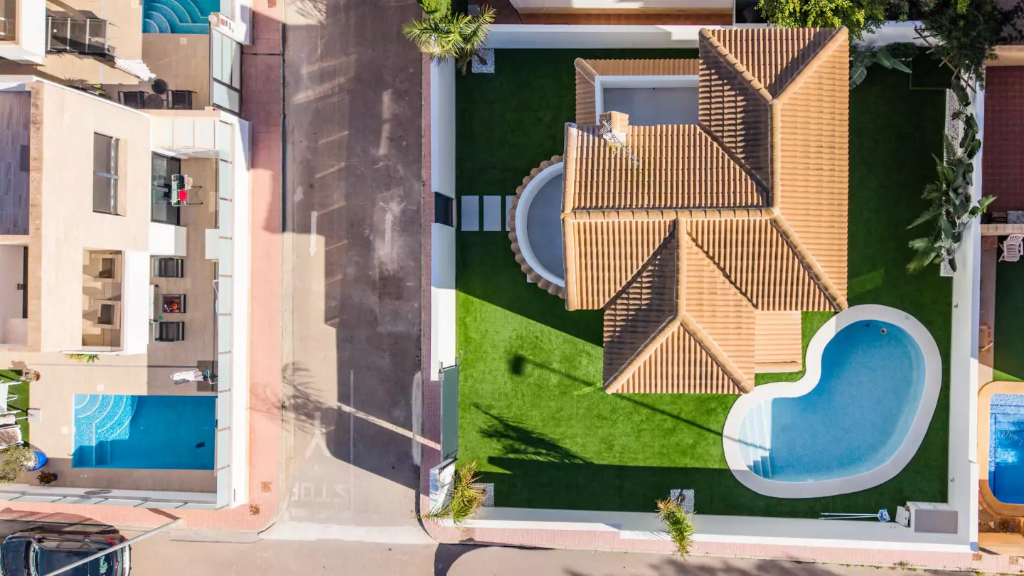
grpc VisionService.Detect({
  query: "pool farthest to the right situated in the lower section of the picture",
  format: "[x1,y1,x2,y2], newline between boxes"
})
[979,382,1024,517]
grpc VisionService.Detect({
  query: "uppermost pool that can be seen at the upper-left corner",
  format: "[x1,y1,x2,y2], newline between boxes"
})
[141,0,221,34]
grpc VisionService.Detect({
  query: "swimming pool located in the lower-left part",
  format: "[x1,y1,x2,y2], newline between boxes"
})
[71,395,216,470]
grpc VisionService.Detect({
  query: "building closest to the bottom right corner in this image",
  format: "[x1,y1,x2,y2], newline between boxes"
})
[908,500,959,532]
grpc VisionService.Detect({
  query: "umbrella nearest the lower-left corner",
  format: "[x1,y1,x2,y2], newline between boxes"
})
[169,361,217,391]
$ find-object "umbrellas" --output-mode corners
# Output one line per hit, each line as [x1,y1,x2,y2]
[114,57,159,87]
[169,361,217,391]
